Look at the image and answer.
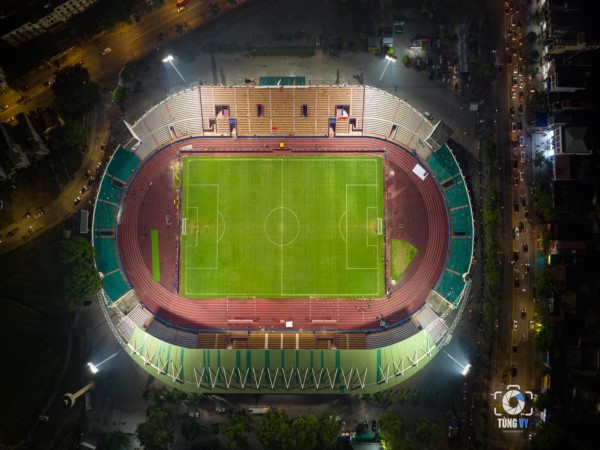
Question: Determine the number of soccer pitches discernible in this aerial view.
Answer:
1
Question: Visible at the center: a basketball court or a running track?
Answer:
running track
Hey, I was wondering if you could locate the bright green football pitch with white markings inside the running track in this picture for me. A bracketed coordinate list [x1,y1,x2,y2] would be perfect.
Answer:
[183,154,385,299]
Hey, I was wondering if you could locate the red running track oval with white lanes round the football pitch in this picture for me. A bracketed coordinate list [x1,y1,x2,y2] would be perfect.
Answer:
[118,137,449,331]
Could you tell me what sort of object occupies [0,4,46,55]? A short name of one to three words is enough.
building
